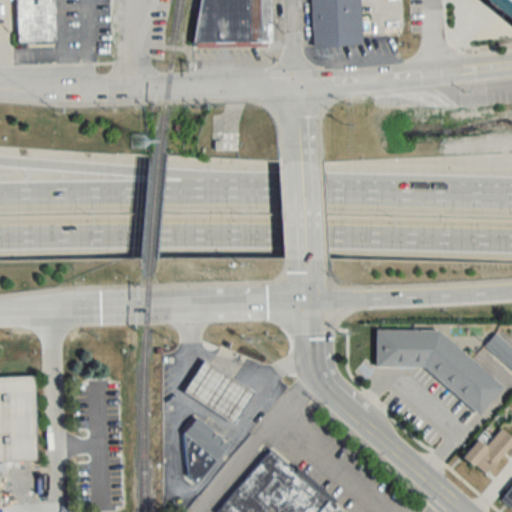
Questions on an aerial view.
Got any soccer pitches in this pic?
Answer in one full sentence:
No, the photo shows no soccer pitch.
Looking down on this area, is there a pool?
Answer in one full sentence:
No, there isn't any pool down there.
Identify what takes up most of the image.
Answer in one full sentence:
The bulk of the photo consists of paved ground.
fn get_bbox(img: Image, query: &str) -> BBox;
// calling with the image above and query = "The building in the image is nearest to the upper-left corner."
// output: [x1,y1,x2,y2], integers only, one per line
[18,0,59,48]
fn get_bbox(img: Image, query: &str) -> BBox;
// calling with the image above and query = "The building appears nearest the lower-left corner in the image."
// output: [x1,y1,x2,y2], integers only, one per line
[0,376,40,462]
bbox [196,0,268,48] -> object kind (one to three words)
building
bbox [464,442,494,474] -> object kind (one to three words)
house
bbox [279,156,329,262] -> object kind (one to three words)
overpass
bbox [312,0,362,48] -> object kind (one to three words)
building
